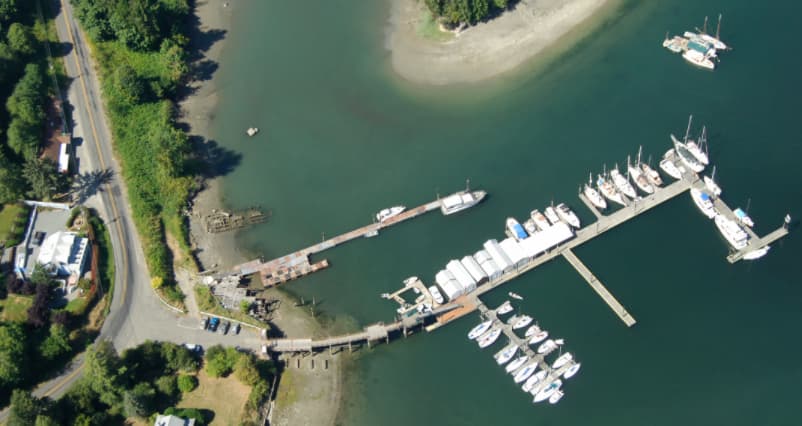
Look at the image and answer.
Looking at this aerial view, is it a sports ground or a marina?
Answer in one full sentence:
This looks like a marina.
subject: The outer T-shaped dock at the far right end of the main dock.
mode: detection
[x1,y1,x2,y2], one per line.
[672,151,790,263]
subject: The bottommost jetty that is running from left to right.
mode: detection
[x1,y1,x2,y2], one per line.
[267,313,421,359]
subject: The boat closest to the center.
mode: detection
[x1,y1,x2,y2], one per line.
[376,205,406,222]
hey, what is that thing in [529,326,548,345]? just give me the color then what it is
white boat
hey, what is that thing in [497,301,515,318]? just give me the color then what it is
white boat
